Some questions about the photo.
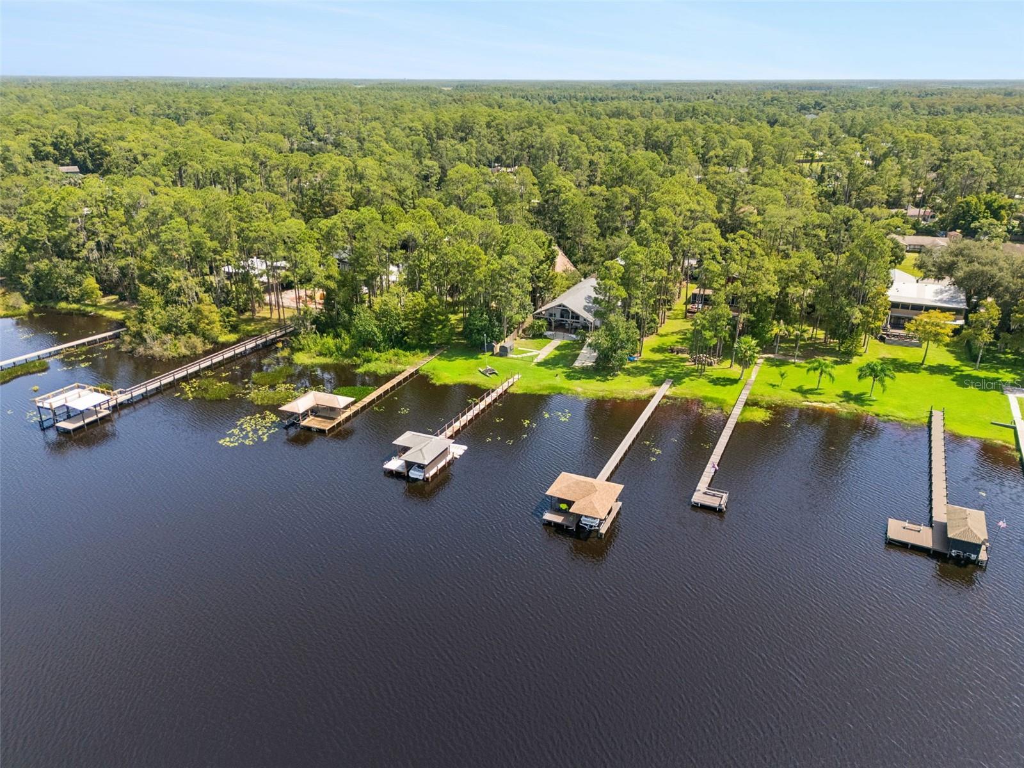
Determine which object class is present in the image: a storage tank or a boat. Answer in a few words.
boat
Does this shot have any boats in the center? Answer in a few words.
Yes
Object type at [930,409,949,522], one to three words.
pier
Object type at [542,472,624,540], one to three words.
building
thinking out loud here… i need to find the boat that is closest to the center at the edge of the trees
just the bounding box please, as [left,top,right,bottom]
[477,338,502,374]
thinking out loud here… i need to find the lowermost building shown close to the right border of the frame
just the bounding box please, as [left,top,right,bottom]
[886,504,989,567]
